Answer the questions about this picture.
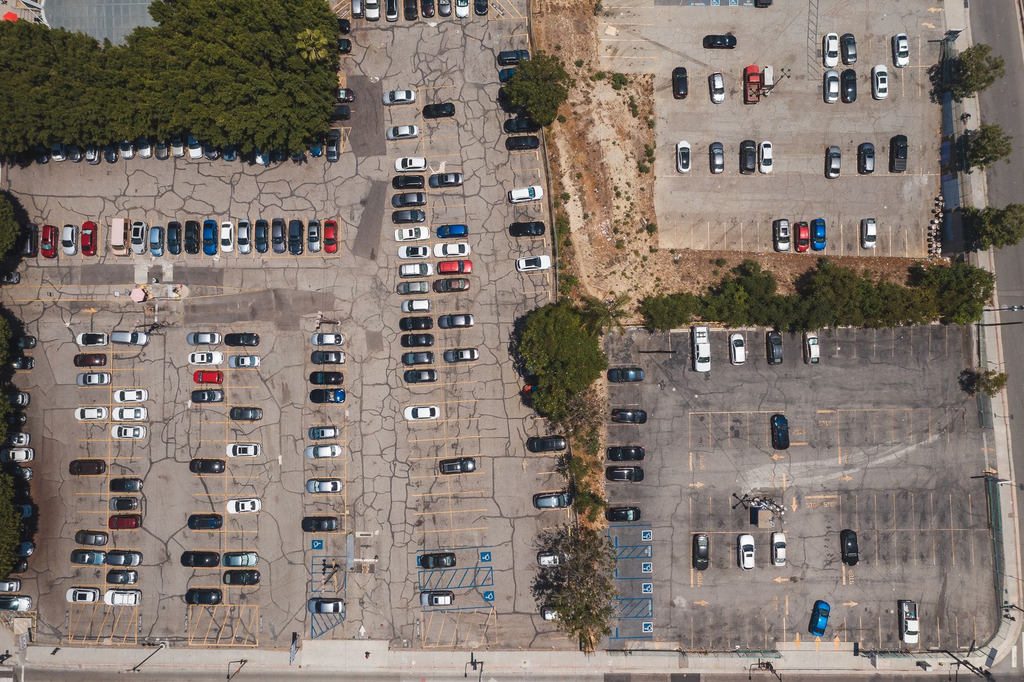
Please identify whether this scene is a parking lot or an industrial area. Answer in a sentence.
The area seen from above is a parking lot.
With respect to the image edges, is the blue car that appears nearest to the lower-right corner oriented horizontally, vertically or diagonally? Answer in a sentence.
From this overhead view, the blue car that appears nearest to the lower-right corner appears to run vertically.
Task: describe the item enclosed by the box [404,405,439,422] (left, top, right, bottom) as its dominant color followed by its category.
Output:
white car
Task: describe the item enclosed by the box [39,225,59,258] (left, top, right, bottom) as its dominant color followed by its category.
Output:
red car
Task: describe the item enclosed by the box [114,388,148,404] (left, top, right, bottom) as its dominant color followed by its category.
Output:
white car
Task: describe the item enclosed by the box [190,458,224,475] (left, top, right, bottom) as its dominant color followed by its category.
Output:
black car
